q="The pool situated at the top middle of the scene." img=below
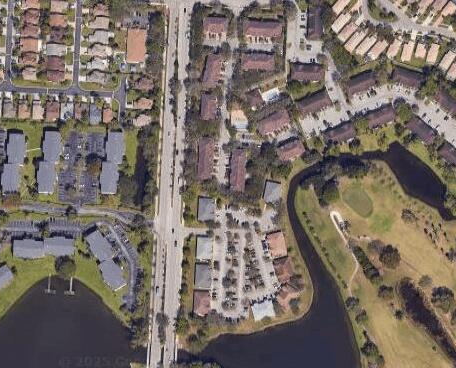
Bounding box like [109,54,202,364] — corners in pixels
[262,86,281,102]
